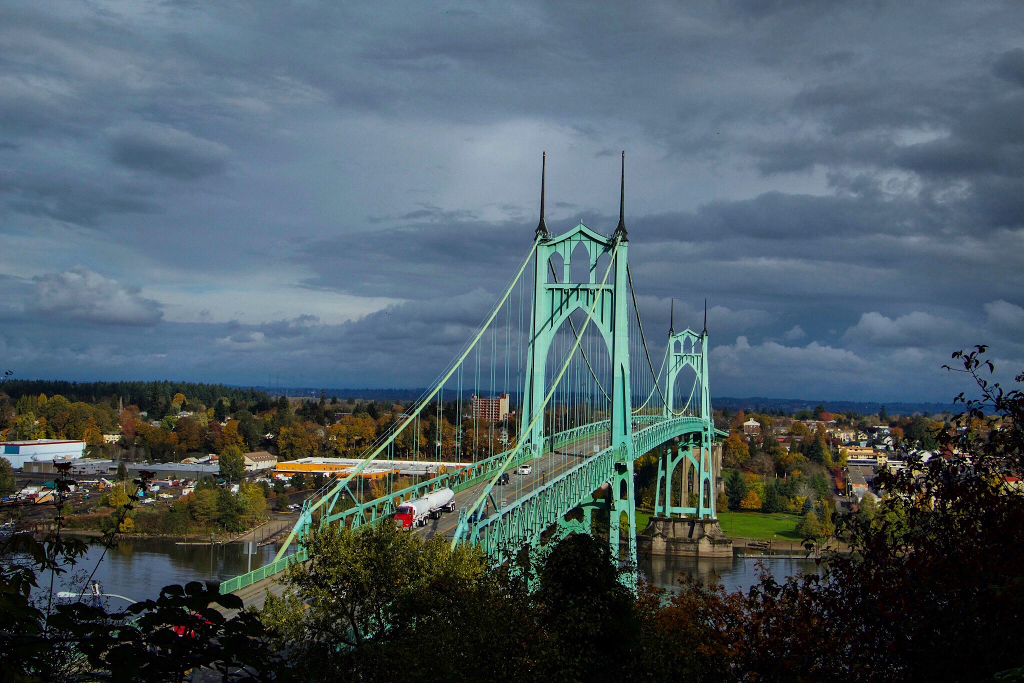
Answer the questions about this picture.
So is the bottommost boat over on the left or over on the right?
left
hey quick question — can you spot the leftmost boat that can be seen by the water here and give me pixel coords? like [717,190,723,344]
[0,513,35,540]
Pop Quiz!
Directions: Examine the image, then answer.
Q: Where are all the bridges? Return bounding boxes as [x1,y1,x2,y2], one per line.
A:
[4,150,734,683]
